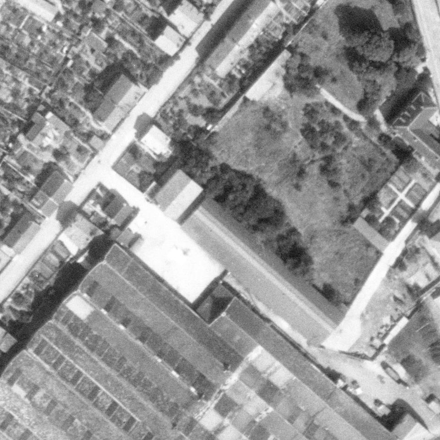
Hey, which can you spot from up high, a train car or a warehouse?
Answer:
warehouse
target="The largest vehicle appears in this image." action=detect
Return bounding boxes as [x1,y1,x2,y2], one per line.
[383,366,402,384]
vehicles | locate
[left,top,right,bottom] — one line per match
[351,386,361,395]
[383,366,402,384]
[375,404,389,416]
